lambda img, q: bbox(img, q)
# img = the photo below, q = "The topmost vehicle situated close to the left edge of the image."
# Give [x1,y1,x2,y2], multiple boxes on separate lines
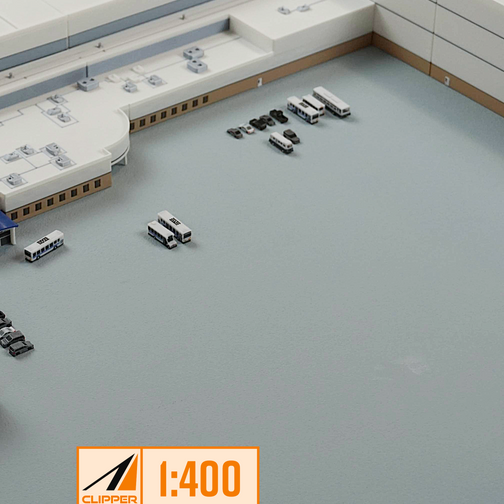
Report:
[24,230,65,260]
